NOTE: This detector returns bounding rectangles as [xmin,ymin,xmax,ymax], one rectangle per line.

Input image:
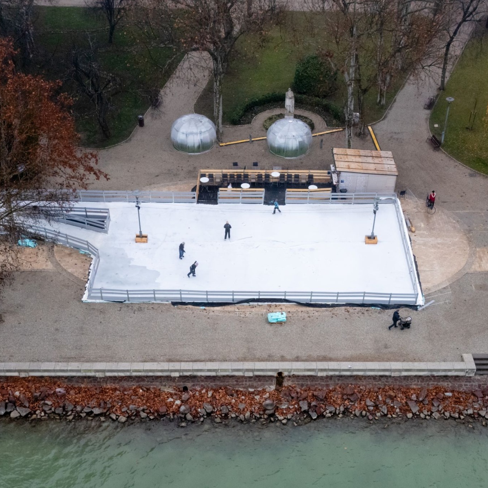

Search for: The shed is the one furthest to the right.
[332,147,401,200]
